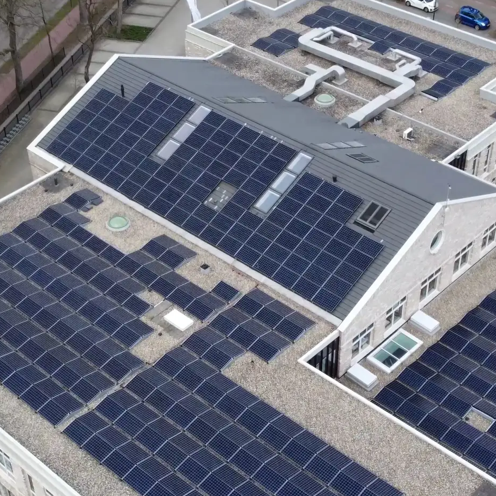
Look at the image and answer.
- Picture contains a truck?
No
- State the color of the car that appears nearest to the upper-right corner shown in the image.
blue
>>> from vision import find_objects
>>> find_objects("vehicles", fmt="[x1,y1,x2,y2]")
[459,5,494,29]
[408,0,440,10]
